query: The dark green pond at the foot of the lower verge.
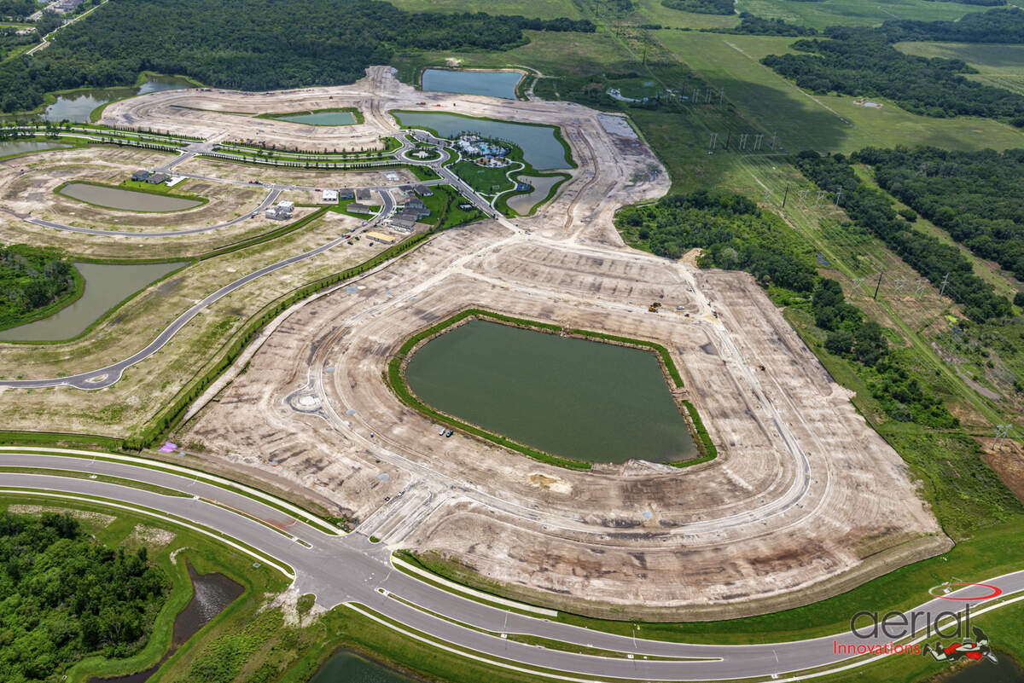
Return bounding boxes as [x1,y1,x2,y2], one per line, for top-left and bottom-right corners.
[307,649,420,683]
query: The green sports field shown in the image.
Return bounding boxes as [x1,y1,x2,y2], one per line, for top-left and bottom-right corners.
[453,160,517,193]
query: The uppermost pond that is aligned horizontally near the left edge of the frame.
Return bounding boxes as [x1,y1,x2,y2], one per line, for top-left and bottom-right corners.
[0,75,197,122]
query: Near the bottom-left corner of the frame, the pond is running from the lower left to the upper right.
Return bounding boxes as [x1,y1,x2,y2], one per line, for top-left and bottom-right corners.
[87,563,243,683]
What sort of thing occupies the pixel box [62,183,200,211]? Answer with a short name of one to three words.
pond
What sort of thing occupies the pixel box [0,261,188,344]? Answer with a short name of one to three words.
pond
